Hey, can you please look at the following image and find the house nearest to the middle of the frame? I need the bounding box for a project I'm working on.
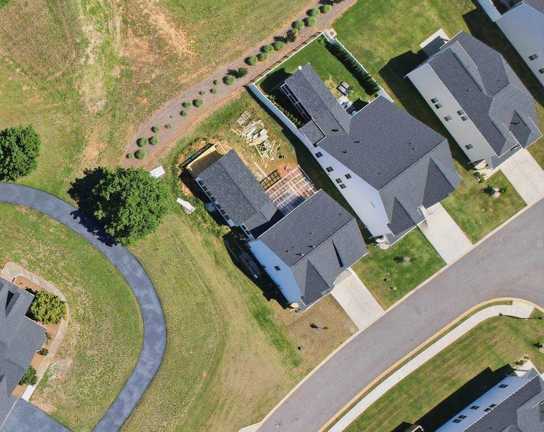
[194,150,368,312]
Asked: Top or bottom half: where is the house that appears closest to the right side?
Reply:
top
